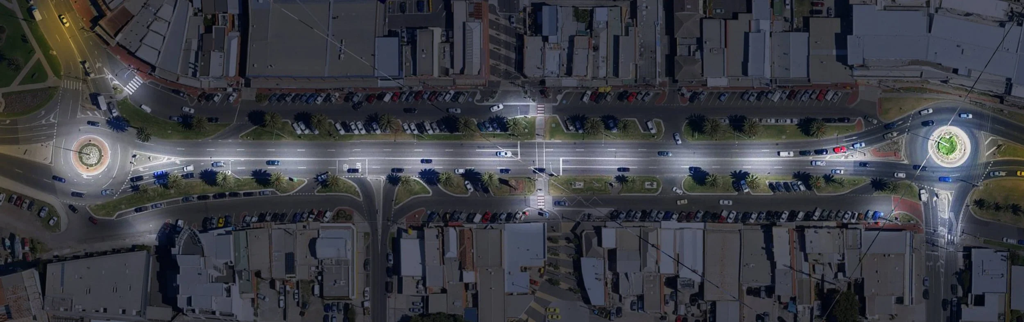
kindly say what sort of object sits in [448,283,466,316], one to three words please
building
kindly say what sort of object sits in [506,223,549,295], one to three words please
building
